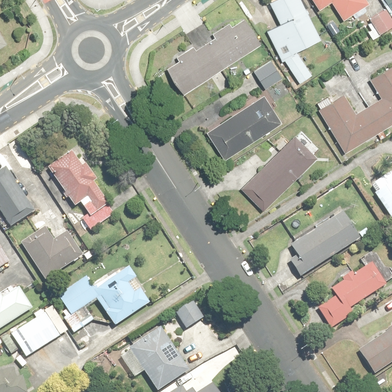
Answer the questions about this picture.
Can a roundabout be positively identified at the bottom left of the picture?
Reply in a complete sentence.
No, looking at the bottom left of the picture, there is no roundabout.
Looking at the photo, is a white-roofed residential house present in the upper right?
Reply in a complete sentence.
Yes, there is a white-roofed residential house in the upper right.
